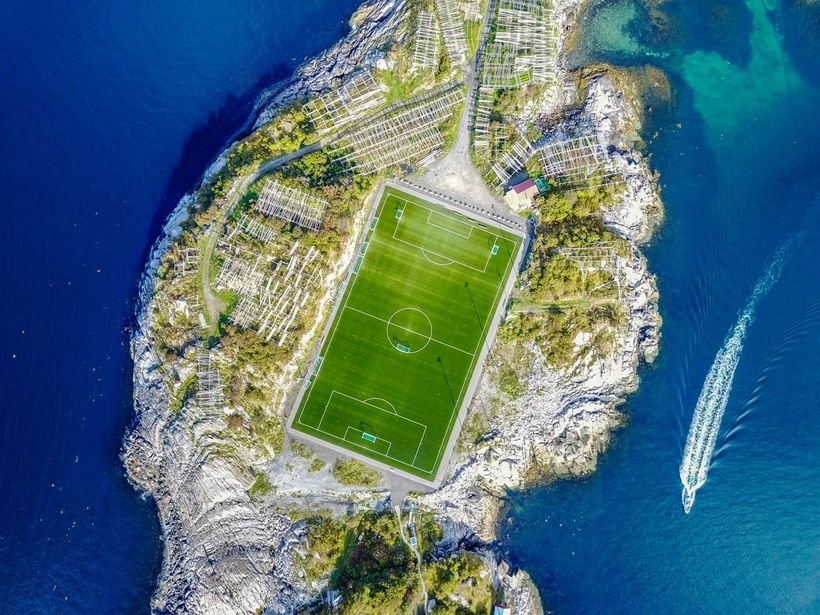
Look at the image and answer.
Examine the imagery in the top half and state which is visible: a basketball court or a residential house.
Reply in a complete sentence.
There is a residential house in the top half.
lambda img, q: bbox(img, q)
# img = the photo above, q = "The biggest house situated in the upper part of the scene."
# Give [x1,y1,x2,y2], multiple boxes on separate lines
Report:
[505,178,540,211]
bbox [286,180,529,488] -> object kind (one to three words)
soccer field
